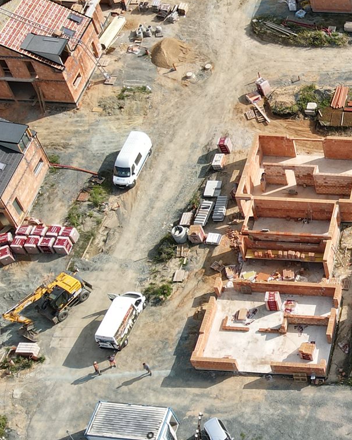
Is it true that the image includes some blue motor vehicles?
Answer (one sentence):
No, there appears to be no blue motor vehicle in this shot.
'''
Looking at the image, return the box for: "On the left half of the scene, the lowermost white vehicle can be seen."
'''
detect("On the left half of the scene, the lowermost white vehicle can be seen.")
[93,292,153,357]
